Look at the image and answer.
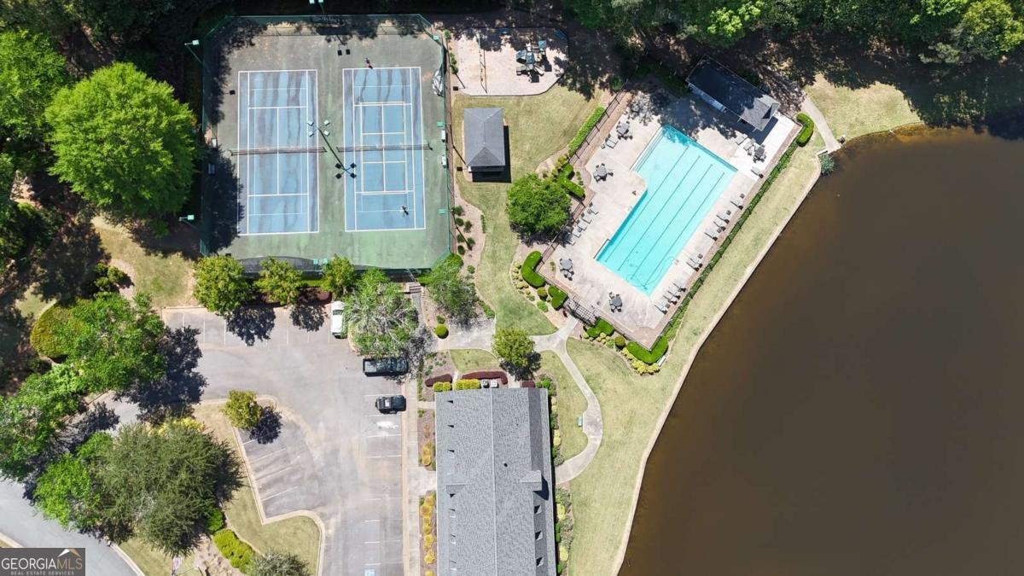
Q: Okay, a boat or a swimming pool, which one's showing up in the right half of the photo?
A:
swimming pool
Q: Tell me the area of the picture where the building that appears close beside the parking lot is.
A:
bottom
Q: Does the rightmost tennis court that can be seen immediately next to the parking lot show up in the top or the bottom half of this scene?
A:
top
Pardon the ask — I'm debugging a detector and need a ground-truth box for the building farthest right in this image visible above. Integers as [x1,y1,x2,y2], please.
[682,58,779,136]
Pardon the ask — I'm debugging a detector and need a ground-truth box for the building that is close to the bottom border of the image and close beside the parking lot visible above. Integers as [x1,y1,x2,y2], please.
[434,386,554,576]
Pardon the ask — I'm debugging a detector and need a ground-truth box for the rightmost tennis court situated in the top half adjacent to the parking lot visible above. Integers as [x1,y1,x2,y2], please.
[343,67,425,231]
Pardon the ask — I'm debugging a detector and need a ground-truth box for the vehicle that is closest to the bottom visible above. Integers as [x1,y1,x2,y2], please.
[376,395,408,411]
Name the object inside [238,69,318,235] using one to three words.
tennis court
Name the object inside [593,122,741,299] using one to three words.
swimming pool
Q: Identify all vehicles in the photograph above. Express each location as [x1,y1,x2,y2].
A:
[328,302,346,339]
[364,356,408,375]
[376,395,408,411]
